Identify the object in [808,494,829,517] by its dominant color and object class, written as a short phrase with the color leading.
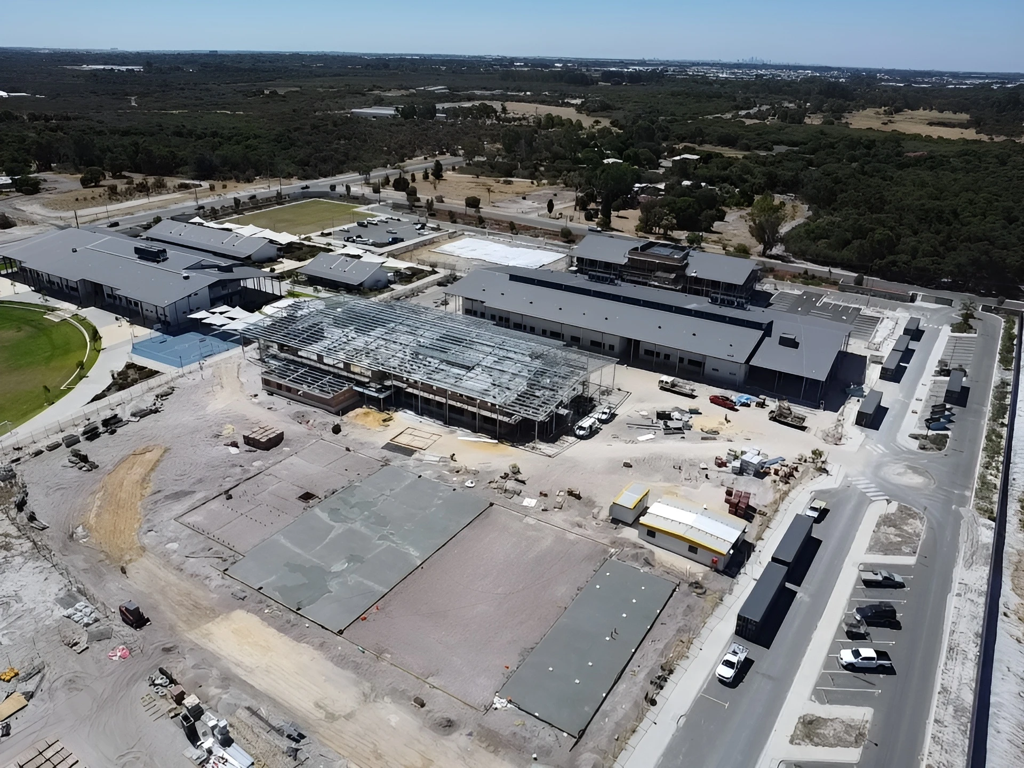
white truck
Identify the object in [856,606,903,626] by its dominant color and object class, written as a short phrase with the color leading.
black car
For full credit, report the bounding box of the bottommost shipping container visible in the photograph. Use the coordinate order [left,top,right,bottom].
[735,560,788,640]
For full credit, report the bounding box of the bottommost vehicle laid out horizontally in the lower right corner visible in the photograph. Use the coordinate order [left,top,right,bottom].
[840,650,895,673]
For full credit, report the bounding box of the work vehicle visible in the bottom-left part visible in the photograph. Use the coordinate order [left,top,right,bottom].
[119,607,148,635]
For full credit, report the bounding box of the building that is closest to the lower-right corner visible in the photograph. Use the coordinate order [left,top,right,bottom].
[637,482,753,568]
